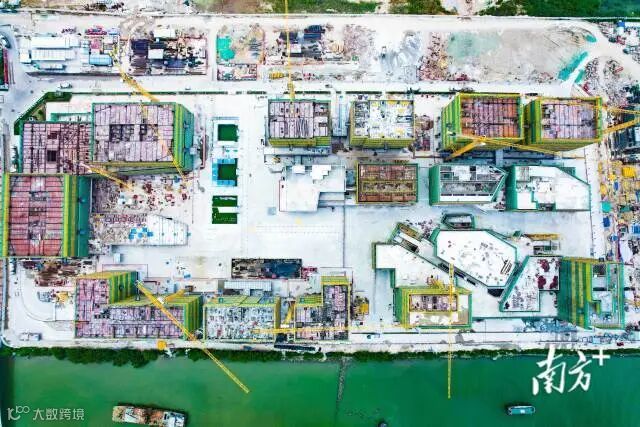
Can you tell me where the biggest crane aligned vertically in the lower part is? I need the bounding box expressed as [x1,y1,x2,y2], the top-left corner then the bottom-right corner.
[436,263,458,399]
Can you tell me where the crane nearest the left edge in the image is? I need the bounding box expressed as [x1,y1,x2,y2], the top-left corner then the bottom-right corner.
[74,166,138,194]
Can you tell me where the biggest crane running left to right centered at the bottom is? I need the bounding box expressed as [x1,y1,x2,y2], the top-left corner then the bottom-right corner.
[252,296,372,329]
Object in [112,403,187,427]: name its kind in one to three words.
ship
